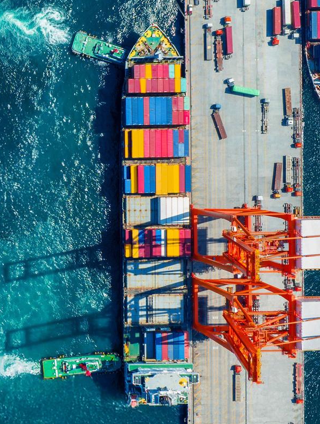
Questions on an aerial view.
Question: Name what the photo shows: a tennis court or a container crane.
container crane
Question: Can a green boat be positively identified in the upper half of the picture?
Yes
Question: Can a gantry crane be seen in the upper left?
No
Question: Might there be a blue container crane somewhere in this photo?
No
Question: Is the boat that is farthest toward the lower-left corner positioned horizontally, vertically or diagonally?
horizontally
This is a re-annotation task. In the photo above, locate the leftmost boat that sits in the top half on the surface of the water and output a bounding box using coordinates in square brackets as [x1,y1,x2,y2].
[71,31,125,65]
